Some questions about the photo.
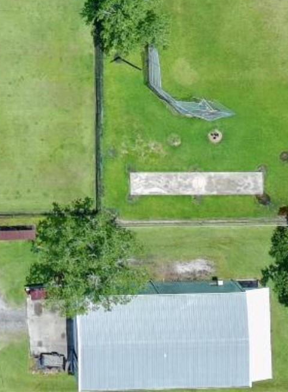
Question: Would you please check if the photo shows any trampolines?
No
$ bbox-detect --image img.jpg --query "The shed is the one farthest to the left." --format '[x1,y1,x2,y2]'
[0,225,36,243]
